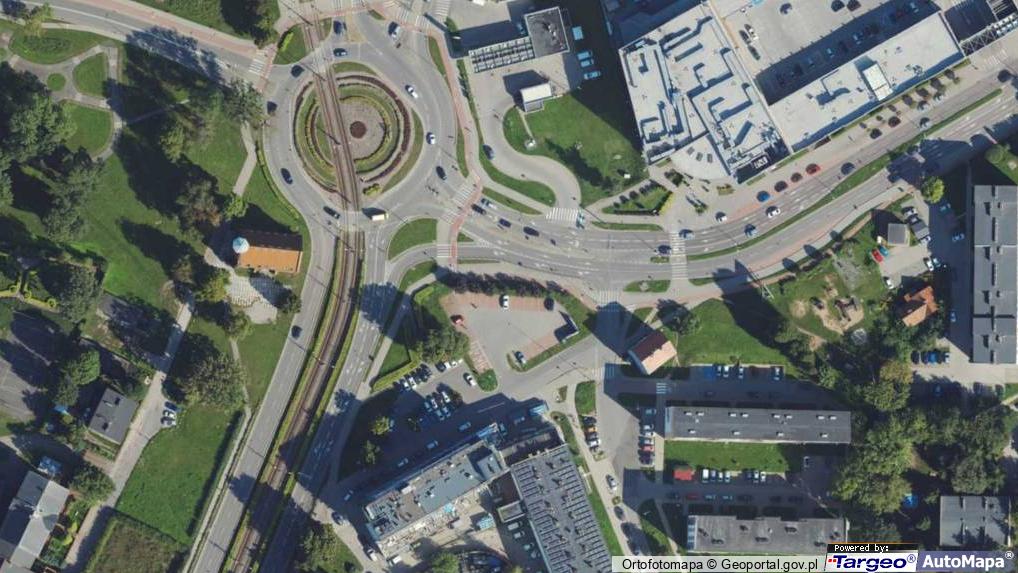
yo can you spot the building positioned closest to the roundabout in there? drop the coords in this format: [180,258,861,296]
[232,228,303,280]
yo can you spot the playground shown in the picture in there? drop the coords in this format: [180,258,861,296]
[785,277,868,352]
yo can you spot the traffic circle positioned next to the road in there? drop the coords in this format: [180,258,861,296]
[263,12,472,243]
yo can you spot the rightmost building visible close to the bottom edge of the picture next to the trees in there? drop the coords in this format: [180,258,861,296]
[936,496,1010,545]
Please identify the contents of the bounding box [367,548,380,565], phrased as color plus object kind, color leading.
white vehicle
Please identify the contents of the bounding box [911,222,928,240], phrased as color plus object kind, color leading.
gray vehicle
